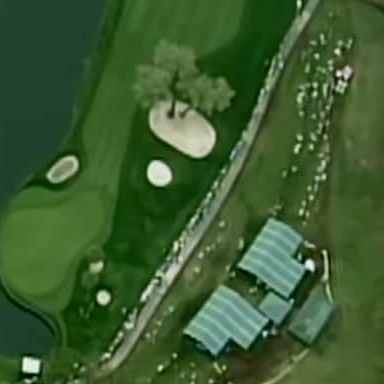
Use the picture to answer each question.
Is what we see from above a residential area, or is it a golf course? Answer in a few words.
golf course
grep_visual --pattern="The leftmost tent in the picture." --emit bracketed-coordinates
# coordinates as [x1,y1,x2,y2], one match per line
[259,294,292,330]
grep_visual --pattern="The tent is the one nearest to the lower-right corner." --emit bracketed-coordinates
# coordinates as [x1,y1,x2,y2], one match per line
[288,286,335,348]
